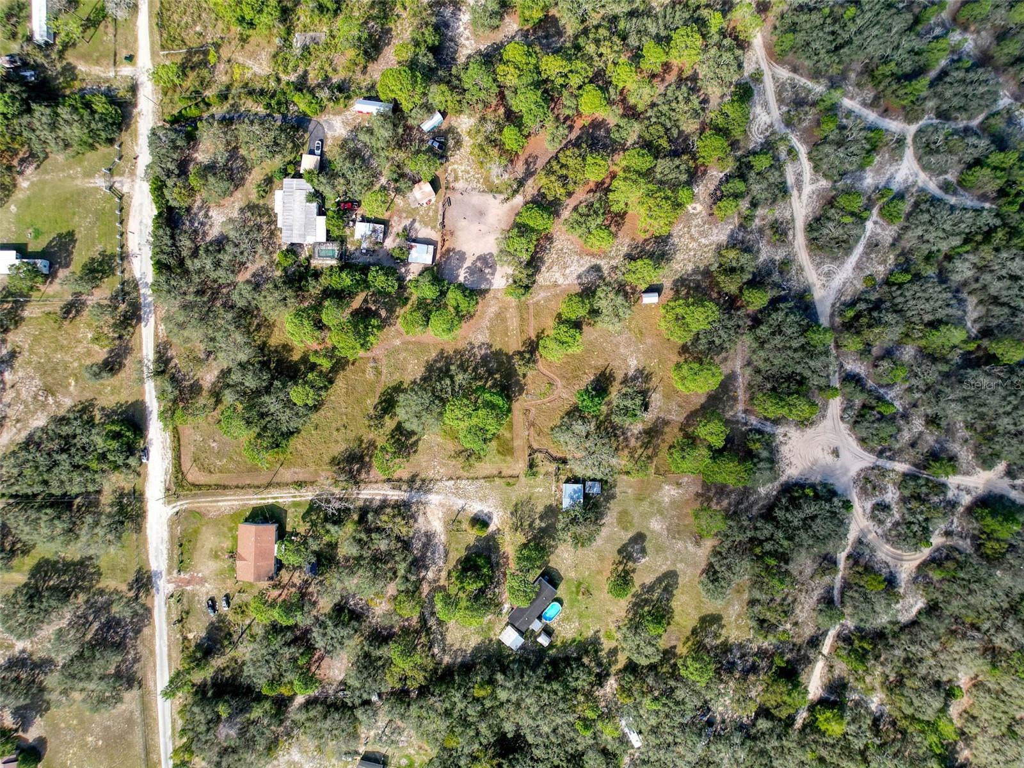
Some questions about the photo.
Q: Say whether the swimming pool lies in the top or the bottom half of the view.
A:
bottom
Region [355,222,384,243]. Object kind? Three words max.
shed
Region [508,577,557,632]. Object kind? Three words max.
house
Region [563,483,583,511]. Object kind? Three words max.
barn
